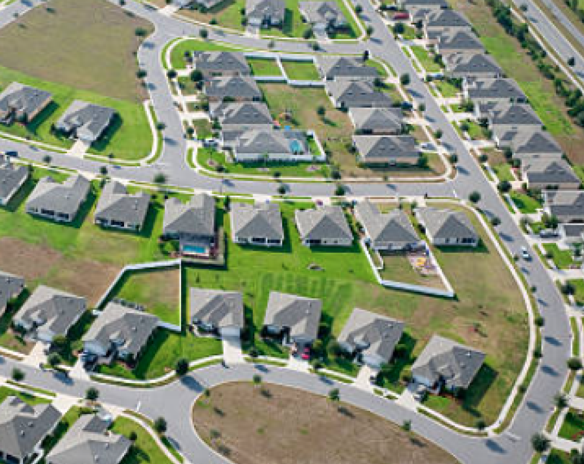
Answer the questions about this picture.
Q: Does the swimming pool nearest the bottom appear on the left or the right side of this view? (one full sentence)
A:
You can find the swimming pool nearest the bottom on the left side of the picture.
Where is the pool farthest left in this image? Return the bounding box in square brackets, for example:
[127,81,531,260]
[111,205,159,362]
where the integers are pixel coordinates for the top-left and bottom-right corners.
[179,233,213,257]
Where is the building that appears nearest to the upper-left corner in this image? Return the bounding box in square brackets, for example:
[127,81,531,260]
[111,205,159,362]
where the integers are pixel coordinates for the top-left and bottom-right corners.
[0,83,51,121]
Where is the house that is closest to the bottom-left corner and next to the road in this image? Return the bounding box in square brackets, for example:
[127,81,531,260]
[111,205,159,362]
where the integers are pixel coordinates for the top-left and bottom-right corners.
[0,398,65,464]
